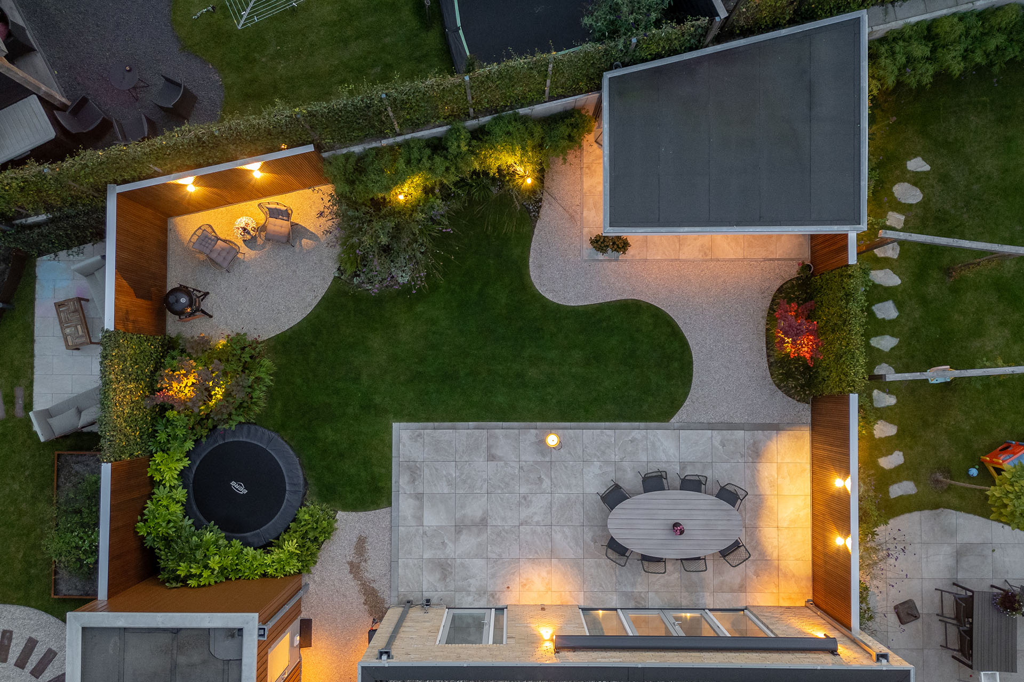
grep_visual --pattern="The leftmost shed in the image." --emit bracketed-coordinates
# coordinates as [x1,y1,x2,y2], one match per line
[64,574,311,682]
